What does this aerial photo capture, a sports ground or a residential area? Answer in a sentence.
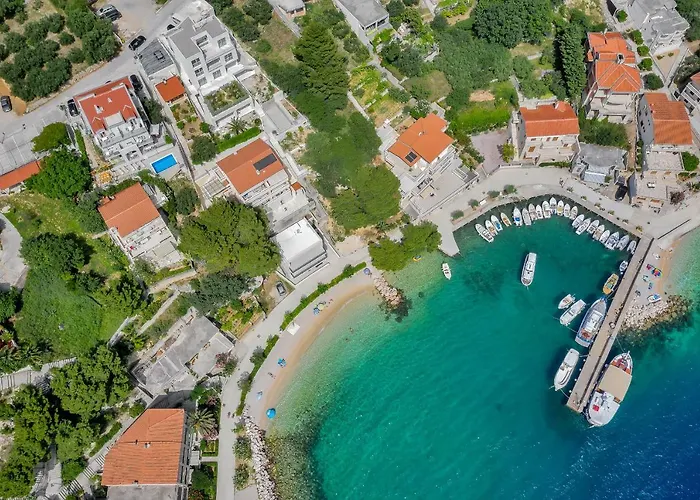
It's a residential area.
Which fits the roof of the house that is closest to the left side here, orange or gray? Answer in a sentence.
The color of the roof of the house that is closest to the left side is orange.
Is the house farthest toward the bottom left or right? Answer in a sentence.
It is on the left.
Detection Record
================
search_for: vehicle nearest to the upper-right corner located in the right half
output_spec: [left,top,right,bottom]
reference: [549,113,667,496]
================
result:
[612,185,630,204]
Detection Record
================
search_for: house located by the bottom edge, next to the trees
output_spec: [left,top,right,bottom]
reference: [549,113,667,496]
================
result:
[101,408,205,500]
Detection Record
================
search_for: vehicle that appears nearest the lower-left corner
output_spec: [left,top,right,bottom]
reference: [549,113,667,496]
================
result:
[275,280,288,300]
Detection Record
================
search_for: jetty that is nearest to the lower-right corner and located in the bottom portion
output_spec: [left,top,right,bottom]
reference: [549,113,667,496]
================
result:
[564,238,657,414]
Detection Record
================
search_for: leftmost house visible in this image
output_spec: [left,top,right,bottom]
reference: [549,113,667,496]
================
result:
[0,159,46,202]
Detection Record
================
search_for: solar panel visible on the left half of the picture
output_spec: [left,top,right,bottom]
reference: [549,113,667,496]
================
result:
[253,154,277,172]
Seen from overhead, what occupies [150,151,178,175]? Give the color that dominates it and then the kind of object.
blue swimming pool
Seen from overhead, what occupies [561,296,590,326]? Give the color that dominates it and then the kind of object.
white boat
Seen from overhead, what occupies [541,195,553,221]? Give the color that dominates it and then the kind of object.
white boat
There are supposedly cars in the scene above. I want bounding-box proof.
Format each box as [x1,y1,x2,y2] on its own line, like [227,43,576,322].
[128,36,147,51]
[612,185,630,204]
[0,96,12,113]
[275,280,288,300]
[99,3,118,17]
[105,9,124,23]
[68,100,80,116]
[131,75,143,91]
